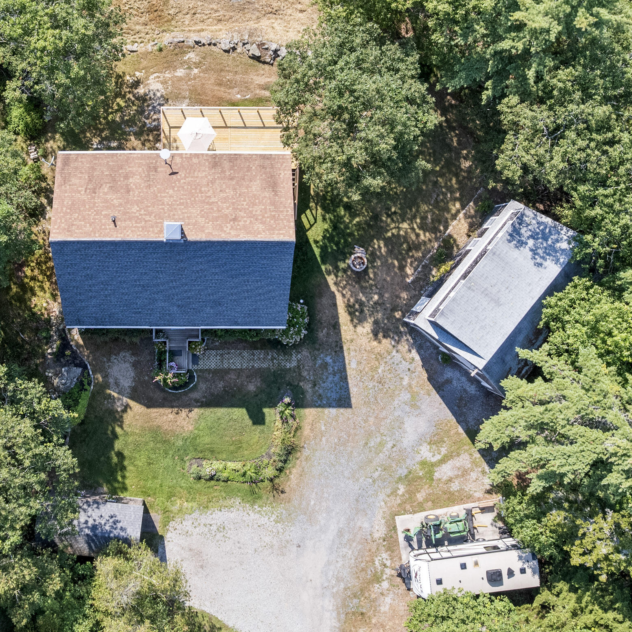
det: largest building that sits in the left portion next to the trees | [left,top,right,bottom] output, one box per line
[50,149,295,331]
